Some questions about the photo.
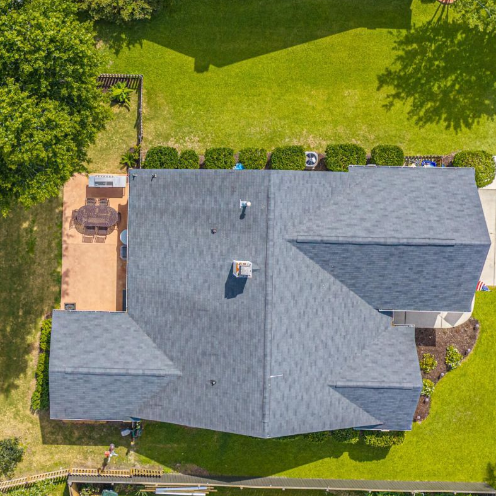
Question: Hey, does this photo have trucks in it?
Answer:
No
